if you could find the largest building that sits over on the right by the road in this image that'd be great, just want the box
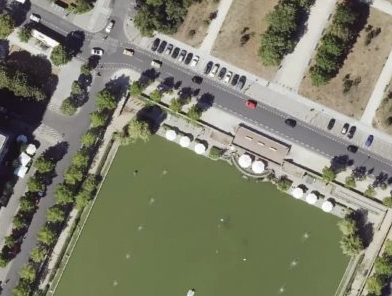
[232,126,289,167]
